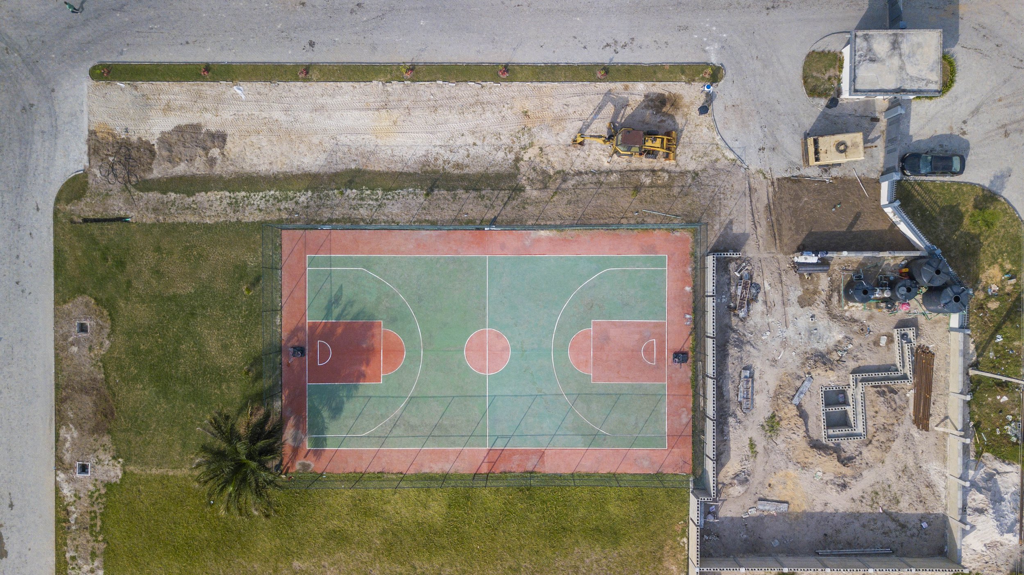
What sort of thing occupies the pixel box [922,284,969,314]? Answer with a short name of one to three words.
water tank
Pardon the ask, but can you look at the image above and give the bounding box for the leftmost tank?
[843,280,875,302]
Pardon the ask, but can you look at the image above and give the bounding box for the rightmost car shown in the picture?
[901,149,967,178]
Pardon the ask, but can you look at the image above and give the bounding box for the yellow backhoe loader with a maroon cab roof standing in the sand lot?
[572,122,677,164]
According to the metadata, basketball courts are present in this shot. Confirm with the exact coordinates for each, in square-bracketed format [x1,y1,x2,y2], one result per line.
[282,229,693,475]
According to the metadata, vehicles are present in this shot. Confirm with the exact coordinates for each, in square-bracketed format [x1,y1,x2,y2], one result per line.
[572,122,677,164]
[901,149,967,178]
